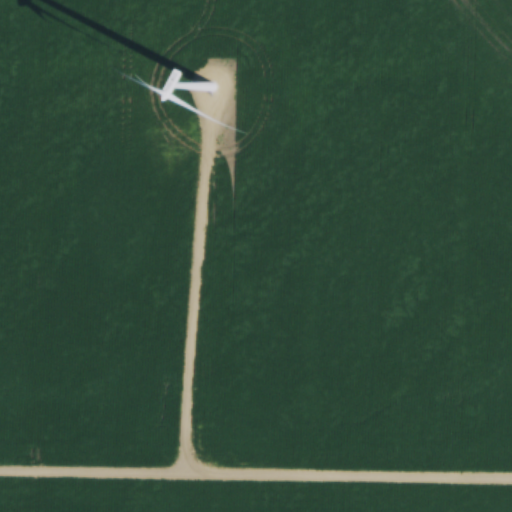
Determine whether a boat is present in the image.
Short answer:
No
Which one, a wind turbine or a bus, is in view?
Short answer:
wind turbine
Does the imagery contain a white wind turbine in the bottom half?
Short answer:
No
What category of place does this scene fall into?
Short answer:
farmland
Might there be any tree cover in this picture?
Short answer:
No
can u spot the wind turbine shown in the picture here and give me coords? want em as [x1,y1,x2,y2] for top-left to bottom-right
[118,68,242,134]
